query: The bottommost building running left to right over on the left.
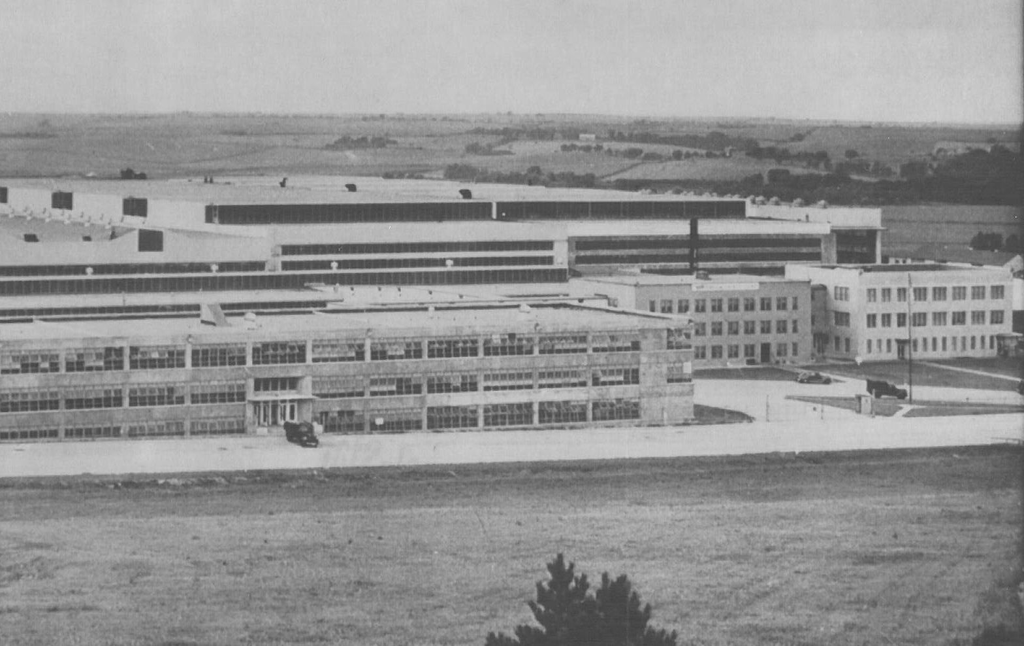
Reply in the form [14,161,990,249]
[0,297,694,442]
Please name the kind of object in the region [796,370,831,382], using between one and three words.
vehicle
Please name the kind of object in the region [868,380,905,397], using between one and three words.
vehicle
